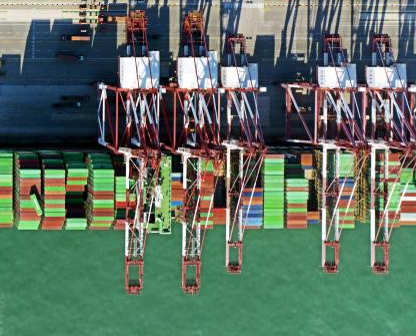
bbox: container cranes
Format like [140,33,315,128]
[269,28,374,276]
[187,28,269,276]
[89,9,168,298]
[318,28,416,276]
[151,9,228,298]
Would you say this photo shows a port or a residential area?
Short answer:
port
